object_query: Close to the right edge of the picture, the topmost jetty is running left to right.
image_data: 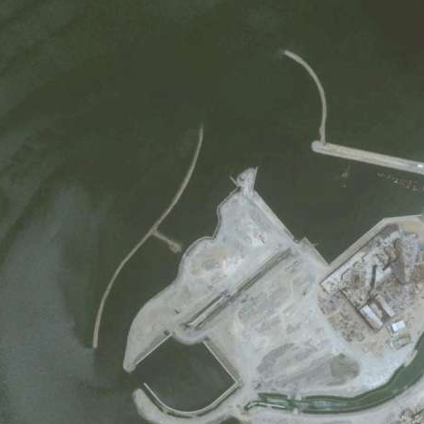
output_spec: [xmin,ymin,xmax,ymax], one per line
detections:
[313,142,424,174]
